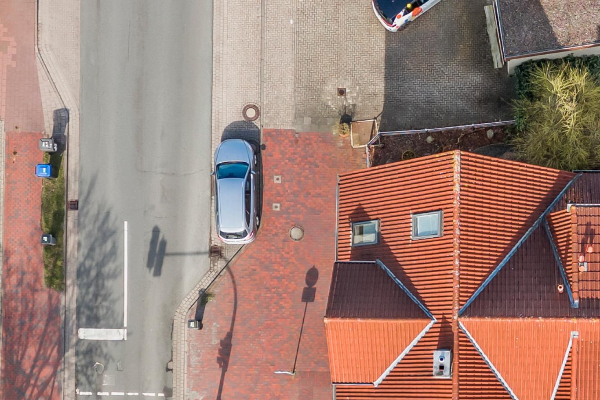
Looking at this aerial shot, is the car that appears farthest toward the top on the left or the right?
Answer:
right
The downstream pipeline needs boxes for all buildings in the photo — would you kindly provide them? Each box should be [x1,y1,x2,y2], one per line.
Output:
[324,149,600,400]
[497,0,600,68]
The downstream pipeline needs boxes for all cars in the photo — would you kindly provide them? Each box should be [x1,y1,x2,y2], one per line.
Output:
[208,138,260,242]
[371,0,445,31]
